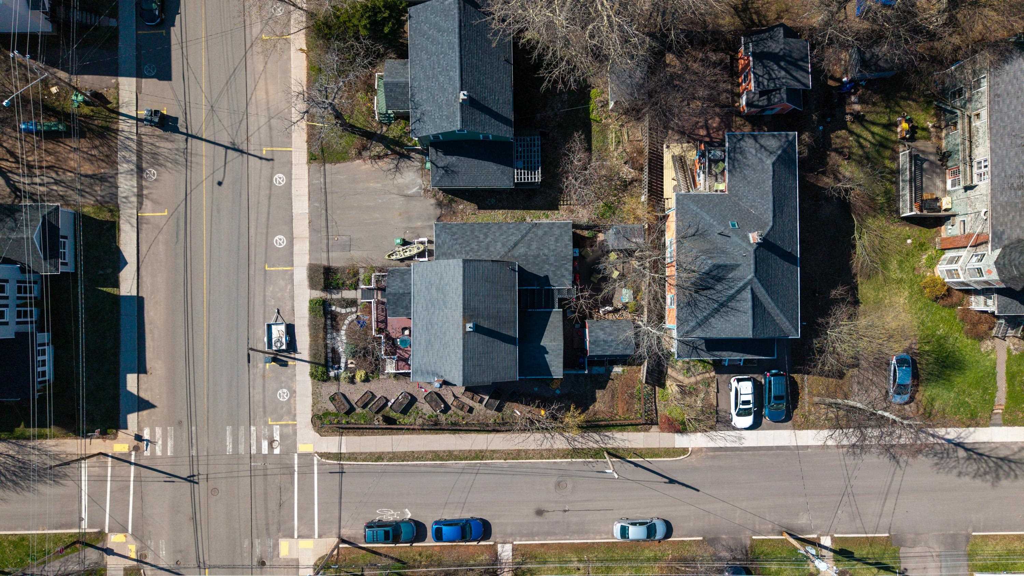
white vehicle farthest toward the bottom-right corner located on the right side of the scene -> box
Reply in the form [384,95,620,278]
[730,374,759,430]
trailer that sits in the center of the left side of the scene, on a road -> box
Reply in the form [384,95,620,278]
[261,308,288,349]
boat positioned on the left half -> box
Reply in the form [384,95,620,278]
[387,242,427,260]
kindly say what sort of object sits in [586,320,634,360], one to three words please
shed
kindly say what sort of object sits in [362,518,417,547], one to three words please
car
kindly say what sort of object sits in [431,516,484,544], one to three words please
car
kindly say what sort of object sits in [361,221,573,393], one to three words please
house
